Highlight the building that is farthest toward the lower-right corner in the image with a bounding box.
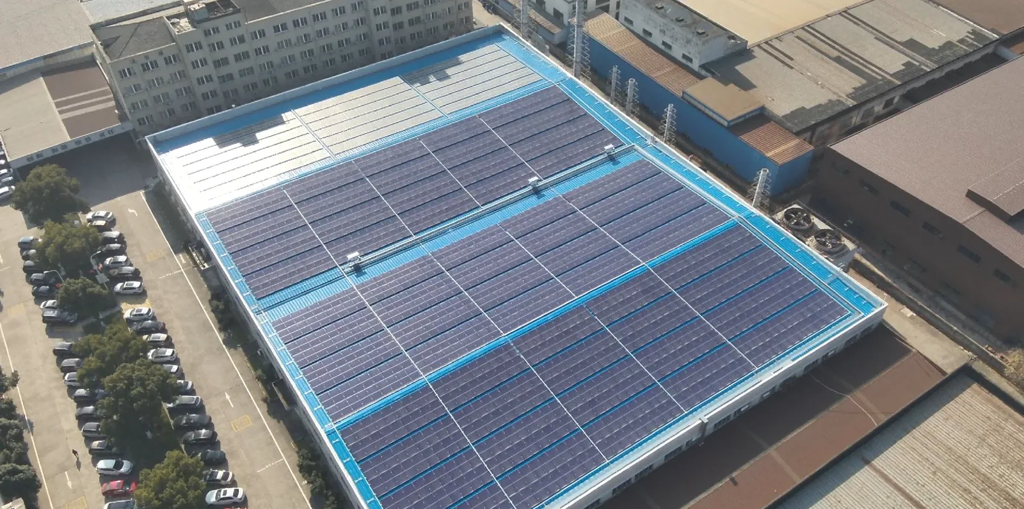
[789,377,1024,509]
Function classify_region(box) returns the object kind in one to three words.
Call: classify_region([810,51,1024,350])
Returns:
building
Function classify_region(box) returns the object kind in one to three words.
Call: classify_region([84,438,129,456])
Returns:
car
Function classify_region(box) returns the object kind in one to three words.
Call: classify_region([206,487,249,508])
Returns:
car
